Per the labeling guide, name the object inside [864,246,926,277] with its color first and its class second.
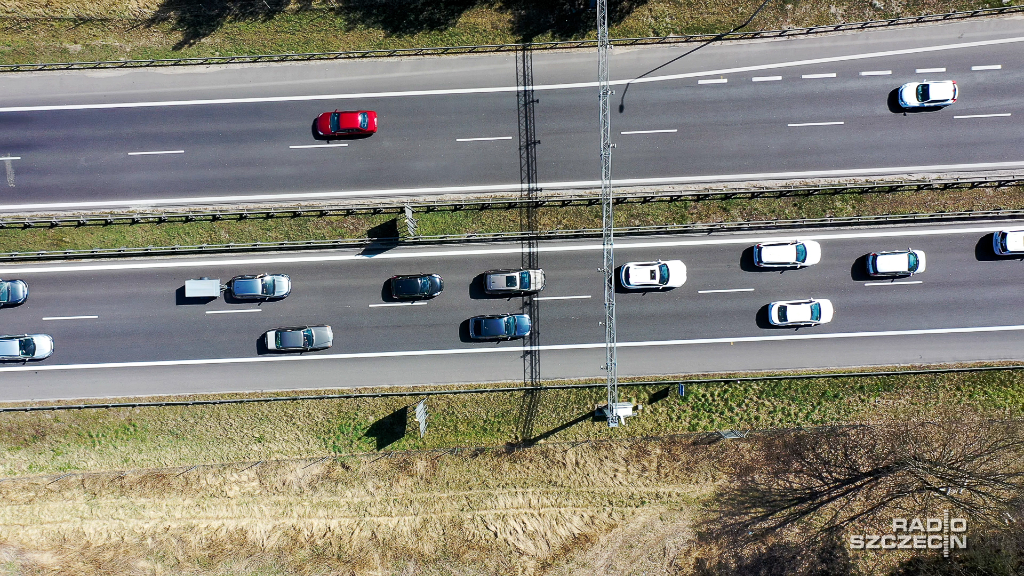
white car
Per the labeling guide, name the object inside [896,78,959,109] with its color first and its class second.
white car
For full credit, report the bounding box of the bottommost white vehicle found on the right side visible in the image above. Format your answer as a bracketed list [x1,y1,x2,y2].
[767,296,834,327]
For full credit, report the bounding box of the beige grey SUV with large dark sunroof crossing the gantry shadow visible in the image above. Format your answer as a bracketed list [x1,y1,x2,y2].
[483,265,546,296]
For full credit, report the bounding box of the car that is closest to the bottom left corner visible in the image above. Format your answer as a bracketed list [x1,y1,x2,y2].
[0,331,56,362]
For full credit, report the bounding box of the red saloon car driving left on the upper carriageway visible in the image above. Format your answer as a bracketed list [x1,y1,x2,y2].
[316,107,378,138]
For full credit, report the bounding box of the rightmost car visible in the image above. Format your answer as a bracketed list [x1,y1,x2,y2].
[991,231,1024,257]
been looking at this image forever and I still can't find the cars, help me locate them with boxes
[264,322,335,353]
[767,296,834,327]
[483,265,546,296]
[620,258,687,289]
[991,231,1024,257]
[0,331,56,362]
[896,78,959,109]
[864,246,926,277]
[391,271,444,301]
[469,311,532,341]
[230,271,292,302]
[316,107,378,138]
[0,276,31,307]
[753,237,821,269]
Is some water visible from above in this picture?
No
